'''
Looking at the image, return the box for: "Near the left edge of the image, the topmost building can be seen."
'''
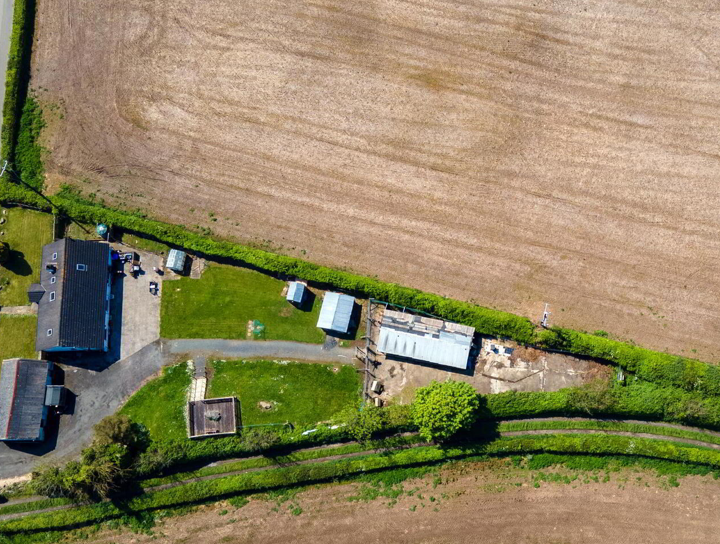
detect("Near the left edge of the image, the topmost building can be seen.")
[28,236,119,354]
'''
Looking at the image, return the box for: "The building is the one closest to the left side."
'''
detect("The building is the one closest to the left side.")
[0,359,57,440]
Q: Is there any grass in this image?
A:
Yes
